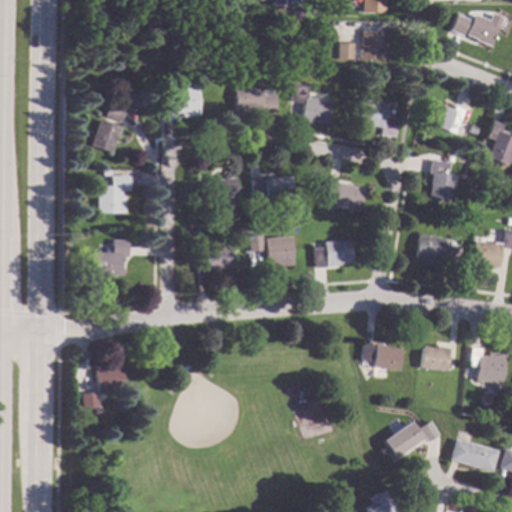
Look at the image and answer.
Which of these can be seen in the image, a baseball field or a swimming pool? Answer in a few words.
baseball field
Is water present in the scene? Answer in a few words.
No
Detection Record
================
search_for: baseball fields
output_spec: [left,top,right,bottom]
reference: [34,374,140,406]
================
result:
[134,362,285,508]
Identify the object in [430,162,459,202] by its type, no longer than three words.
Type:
house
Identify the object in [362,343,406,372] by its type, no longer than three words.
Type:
house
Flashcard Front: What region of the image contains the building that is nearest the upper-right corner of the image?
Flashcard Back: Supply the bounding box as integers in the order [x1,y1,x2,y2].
[452,12,506,44]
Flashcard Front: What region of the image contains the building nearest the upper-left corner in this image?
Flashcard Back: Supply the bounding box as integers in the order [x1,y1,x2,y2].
[93,108,128,154]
